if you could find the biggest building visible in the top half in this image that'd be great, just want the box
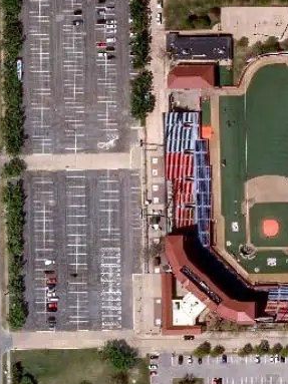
[166,34,234,60]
